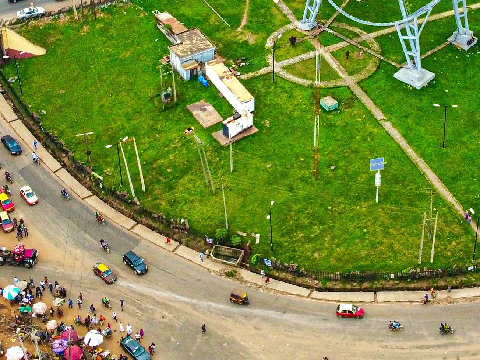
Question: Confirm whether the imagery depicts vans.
Yes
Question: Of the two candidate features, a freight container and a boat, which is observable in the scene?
freight container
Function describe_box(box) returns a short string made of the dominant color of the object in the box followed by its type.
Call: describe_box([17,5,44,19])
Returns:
white car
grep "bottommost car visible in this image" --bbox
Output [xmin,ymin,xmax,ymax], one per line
[121,333,149,360]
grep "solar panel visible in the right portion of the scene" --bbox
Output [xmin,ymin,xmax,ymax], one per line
[369,155,388,171]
